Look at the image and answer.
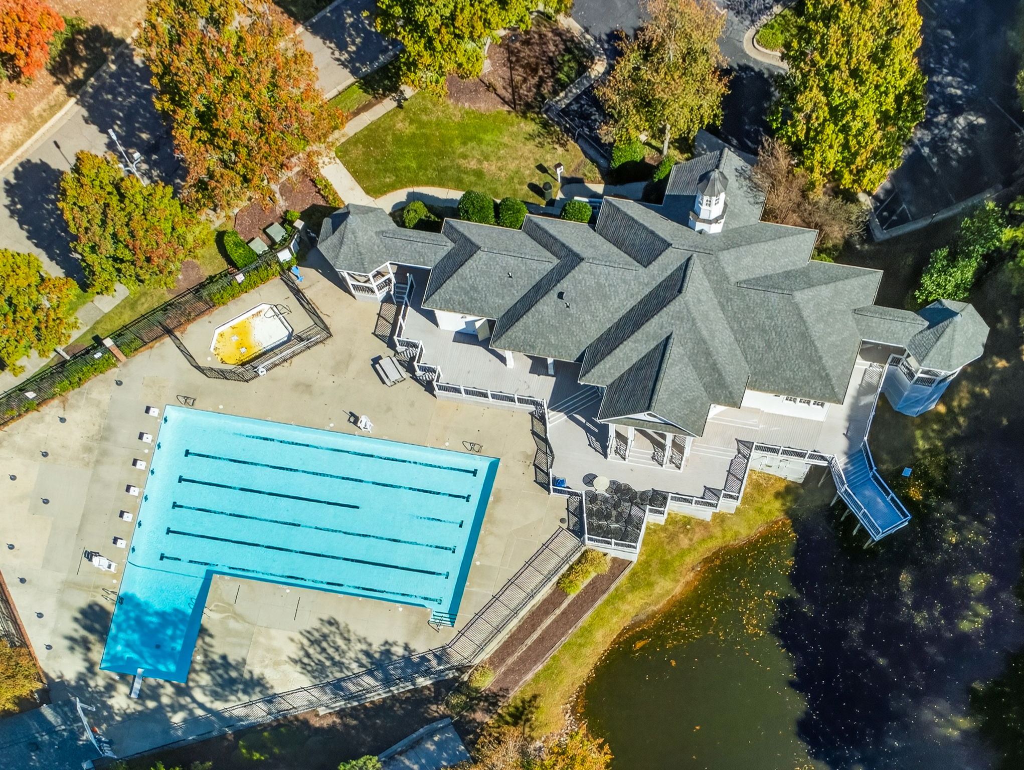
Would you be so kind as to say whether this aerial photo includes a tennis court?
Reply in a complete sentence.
No, there is no tennis court in the image.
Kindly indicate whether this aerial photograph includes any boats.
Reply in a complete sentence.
No, no boat can be seen from above.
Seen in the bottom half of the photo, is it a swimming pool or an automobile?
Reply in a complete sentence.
The one visible in the bottom half of the photo is a swimming pool.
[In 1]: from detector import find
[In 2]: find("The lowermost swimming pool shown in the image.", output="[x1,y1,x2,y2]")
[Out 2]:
[100,405,500,683]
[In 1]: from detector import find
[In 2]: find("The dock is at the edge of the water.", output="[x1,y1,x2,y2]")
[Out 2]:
[828,437,912,552]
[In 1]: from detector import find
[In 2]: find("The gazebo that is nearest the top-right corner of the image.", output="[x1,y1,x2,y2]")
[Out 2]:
[881,299,990,419]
